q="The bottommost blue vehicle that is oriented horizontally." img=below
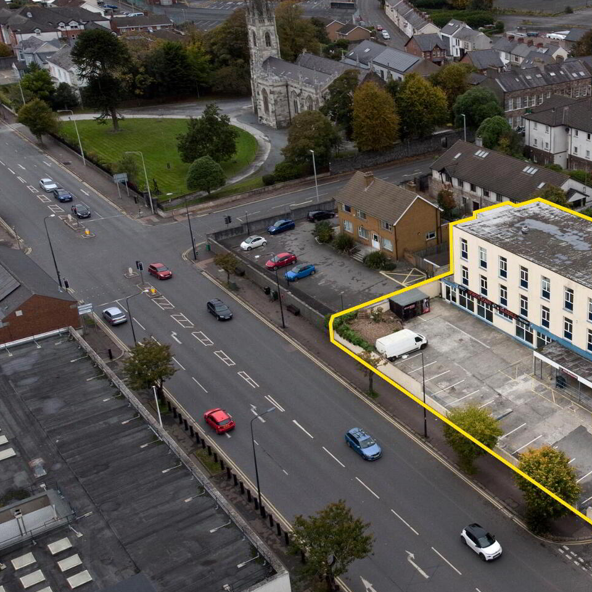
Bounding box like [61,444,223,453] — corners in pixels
[282,262,318,282]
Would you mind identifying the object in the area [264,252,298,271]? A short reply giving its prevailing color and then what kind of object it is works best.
red car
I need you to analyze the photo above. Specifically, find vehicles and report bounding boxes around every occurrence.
[304,208,338,224]
[202,302,234,324]
[458,524,505,567]
[265,219,296,235]
[375,325,428,357]
[52,190,72,205]
[237,232,269,250]
[340,426,385,462]
[264,252,298,271]
[69,204,90,220]
[376,23,383,30]
[38,179,59,193]
[101,306,130,328]
[282,262,318,282]
[200,412,236,439]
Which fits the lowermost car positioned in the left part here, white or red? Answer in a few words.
red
